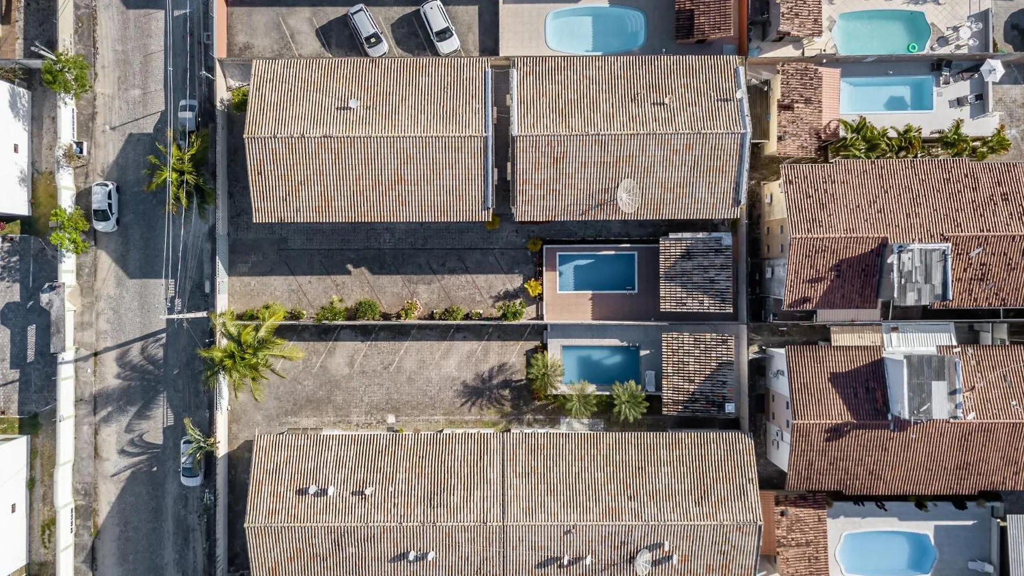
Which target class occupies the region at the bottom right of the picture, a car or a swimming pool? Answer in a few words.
swimming pool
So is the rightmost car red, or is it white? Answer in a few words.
white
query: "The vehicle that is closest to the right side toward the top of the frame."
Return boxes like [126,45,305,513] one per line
[422,0,461,55]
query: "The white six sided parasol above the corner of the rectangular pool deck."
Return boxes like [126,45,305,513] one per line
[969,57,1004,84]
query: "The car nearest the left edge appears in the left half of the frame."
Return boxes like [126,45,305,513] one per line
[89,182,119,232]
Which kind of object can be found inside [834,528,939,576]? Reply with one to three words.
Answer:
swimming pool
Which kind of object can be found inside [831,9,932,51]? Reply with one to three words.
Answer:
swimming pool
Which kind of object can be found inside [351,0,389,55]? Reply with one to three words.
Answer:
car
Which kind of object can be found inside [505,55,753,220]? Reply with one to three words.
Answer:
house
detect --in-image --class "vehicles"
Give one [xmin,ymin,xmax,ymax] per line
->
[179,435,210,485]
[351,0,389,55]
[89,182,119,232]
[177,101,206,155]
[422,0,461,55]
